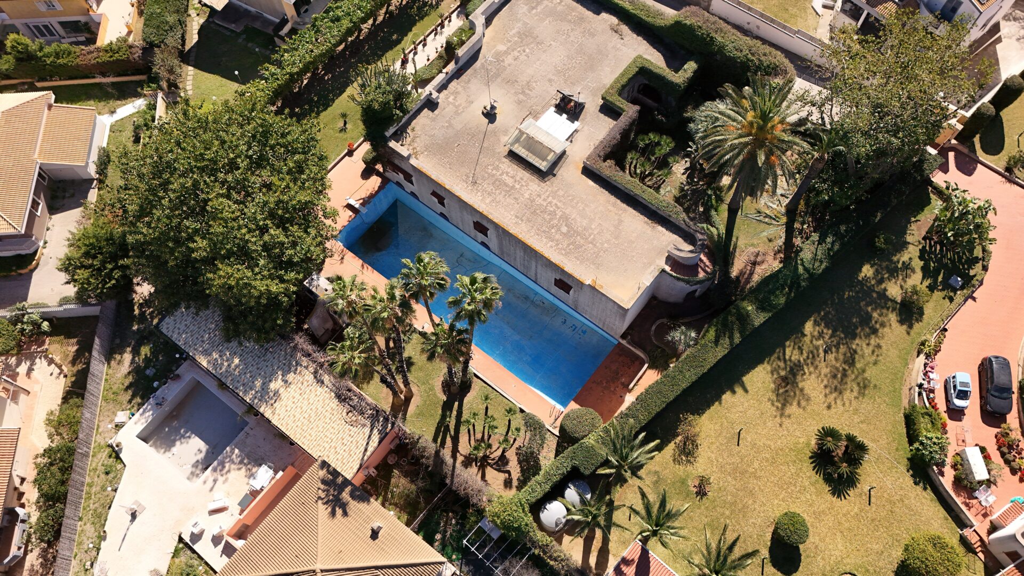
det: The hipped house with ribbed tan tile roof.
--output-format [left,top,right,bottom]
[211,459,467,576]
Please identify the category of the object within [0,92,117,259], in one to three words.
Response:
house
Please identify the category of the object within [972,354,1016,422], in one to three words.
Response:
car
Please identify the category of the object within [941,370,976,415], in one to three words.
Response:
car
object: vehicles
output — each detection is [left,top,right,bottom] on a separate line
[941,370,976,415]
[972,354,1016,422]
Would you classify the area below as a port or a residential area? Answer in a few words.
residential area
